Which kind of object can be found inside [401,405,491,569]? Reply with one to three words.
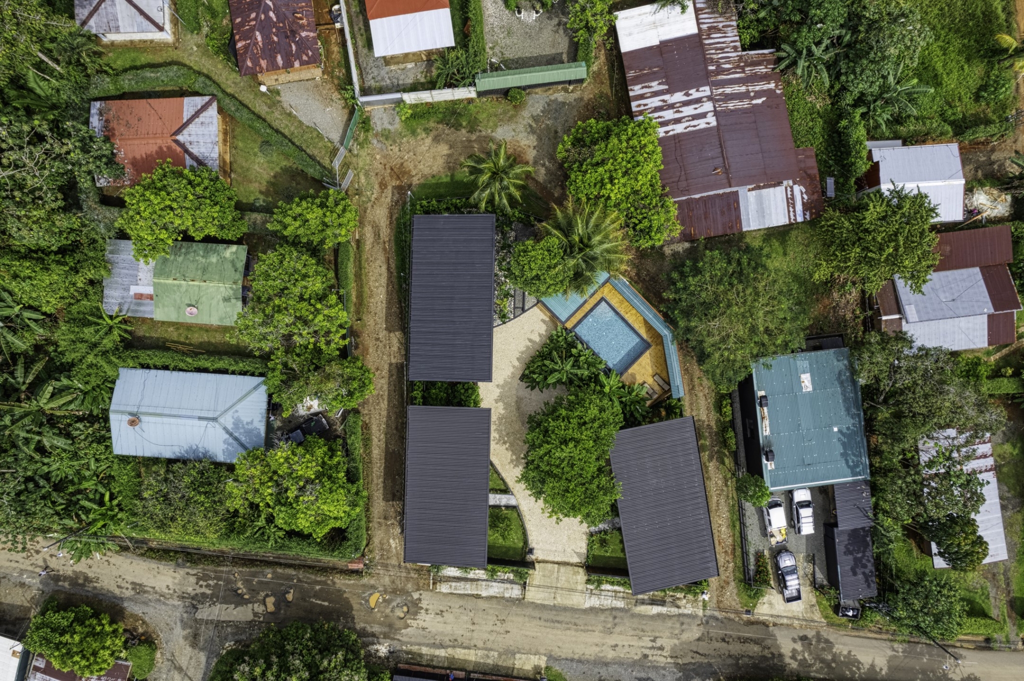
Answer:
building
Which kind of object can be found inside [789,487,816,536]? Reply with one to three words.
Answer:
truck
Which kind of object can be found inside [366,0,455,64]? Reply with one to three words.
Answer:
house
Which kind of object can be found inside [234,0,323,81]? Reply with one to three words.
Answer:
house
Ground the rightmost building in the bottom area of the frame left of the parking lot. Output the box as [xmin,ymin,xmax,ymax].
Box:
[608,415,721,596]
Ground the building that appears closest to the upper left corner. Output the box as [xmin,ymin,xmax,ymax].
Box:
[75,0,173,41]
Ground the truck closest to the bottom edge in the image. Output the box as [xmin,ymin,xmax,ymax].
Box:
[773,547,803,605]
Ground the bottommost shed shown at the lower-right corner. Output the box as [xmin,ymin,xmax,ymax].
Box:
[818,518,878,602]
